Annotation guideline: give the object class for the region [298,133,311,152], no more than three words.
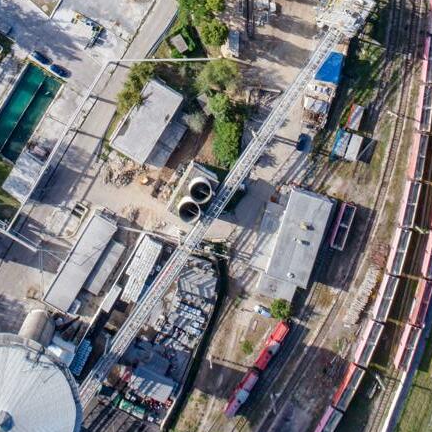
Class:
vehicle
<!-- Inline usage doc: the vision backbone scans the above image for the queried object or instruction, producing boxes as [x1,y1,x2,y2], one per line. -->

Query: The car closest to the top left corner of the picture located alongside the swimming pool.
[32,51,48,64]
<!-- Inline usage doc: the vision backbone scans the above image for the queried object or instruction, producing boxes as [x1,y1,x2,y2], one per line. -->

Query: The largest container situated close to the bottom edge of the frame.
[119,394,144,420]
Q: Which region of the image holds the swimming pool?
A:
top left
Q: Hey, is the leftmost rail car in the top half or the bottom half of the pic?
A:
bottom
